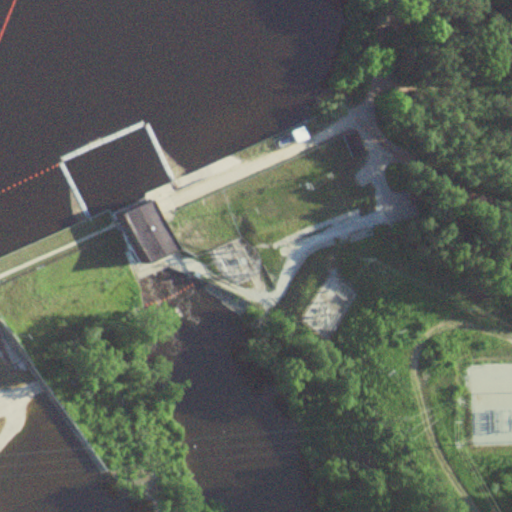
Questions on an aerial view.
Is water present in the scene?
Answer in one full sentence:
Yes, water can be seen from above here.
